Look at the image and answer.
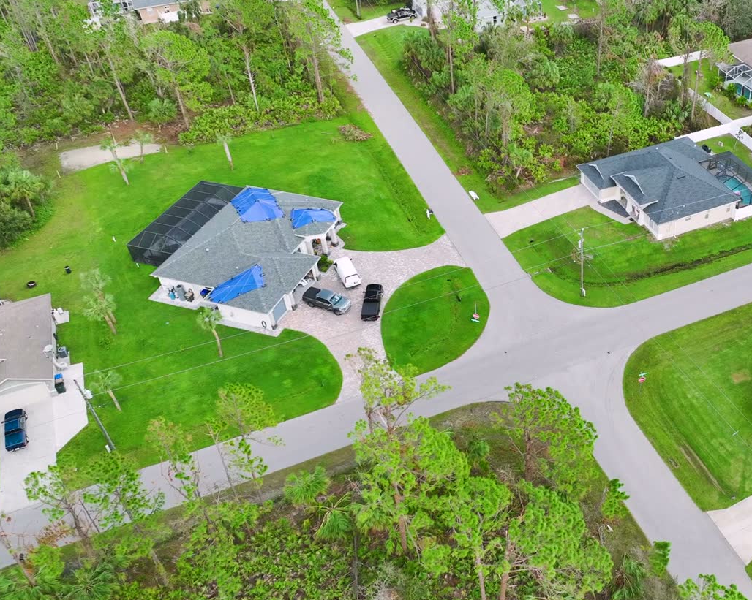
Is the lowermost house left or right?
left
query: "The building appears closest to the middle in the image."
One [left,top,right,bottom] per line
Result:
[150,186,344,334]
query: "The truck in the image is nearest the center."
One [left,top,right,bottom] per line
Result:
[360,285,384,322]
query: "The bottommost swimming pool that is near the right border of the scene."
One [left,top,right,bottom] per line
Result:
[705,167,752,221]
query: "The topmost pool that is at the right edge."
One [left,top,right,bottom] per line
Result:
[718,78,752,104]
